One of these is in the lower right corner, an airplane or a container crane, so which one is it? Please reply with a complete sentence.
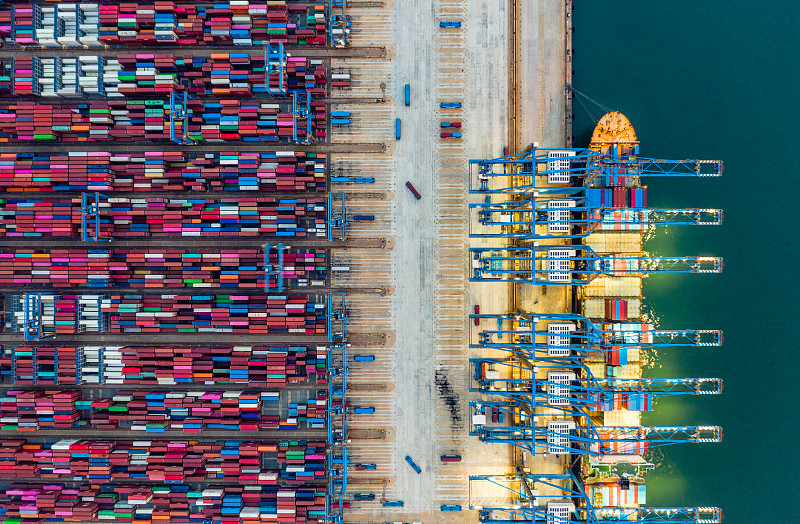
You can see a container crane in the lower right corner.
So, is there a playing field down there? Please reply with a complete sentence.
No, I can see no playing field in this picture.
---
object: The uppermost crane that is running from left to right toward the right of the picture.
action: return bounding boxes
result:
[470,141,724,200]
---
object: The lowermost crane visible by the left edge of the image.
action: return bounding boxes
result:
[17,291,60,340]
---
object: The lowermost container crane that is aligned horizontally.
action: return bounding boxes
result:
[470,462,724,524]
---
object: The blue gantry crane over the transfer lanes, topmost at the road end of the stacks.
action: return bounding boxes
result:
[324,0,352,48]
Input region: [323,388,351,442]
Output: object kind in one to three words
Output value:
crane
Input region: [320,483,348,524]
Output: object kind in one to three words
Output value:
crane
